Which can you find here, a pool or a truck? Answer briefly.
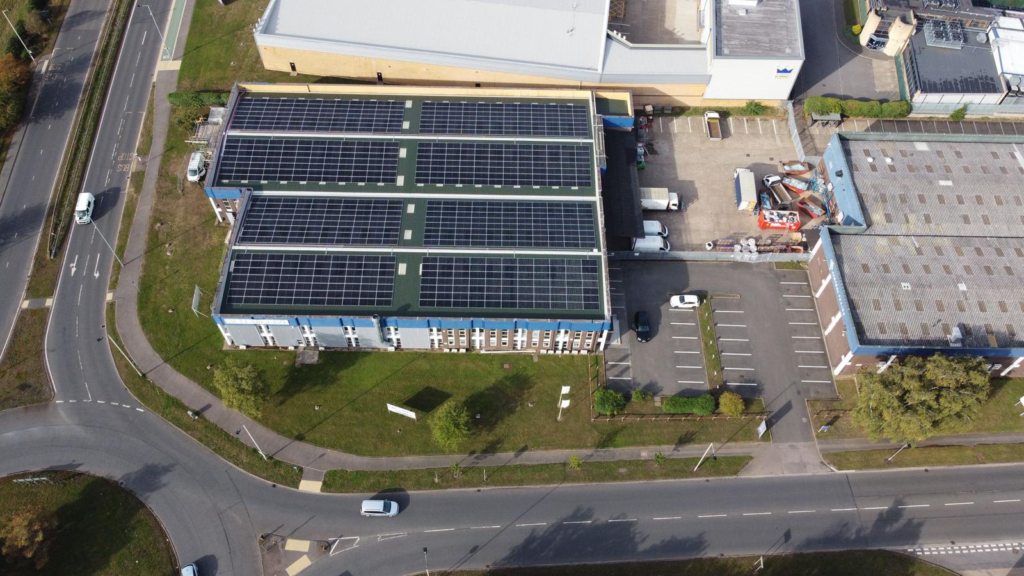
truck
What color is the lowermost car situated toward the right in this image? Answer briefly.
black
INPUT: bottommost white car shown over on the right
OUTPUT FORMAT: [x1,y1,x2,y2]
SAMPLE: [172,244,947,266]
[669,294,701,309]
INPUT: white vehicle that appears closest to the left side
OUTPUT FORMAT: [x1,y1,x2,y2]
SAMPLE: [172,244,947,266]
[73,192,96,224]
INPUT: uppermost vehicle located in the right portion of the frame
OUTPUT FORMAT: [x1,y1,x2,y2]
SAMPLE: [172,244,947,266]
[704,114,724,138]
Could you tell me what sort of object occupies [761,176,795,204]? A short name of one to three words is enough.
truck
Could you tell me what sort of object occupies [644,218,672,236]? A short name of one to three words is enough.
vehicle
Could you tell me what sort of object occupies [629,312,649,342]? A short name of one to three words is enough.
car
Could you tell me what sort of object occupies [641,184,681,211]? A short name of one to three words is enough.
truck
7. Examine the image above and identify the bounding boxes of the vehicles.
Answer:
[733,168,765,210]
[73,192,96,224]
[669,294,701,309]
[761,176,795,204]
[360,499,400,518]
[629,312,649,342]
[185,151,208,182]
[632,235,670,251]
[641,184,681,211]
[644,218,672,236]
[704,114,724,138]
